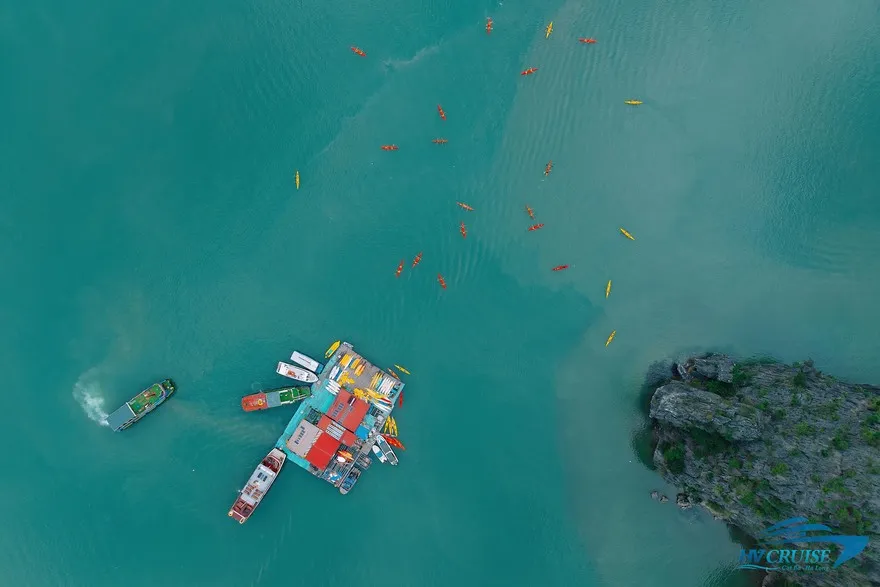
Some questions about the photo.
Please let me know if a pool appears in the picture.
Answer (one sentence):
No, I can see no pool in this picture.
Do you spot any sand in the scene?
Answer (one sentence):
No, the picture contains no sand.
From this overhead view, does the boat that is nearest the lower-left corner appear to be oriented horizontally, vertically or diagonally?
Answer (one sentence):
The boat that is nearest the lower-left corner has been laid out diagonally relative to the frame.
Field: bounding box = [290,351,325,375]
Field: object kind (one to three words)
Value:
boat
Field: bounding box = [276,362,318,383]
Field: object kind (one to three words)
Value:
boat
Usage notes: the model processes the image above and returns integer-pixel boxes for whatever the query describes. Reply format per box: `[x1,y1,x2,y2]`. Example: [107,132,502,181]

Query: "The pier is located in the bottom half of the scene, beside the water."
[277,344,406,486]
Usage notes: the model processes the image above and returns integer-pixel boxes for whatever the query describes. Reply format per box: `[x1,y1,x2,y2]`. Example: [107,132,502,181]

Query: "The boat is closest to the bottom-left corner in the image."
[104,381,172,431]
